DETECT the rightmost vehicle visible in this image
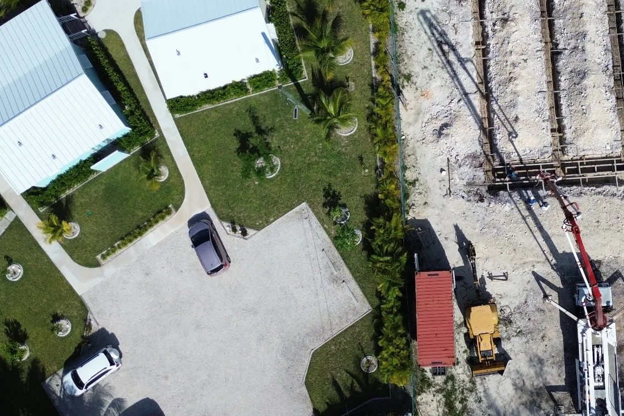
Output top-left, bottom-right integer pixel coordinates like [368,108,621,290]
[531,172,624,416]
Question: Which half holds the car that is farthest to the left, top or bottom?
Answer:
bottom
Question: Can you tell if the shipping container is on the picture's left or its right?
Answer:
right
